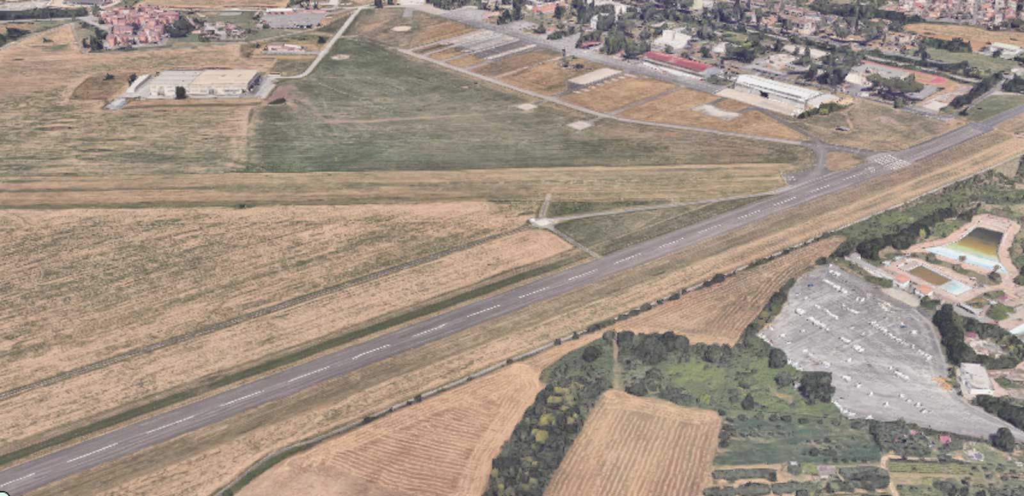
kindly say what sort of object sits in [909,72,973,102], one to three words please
sports field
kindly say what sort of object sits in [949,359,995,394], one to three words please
building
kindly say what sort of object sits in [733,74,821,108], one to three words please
hangar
